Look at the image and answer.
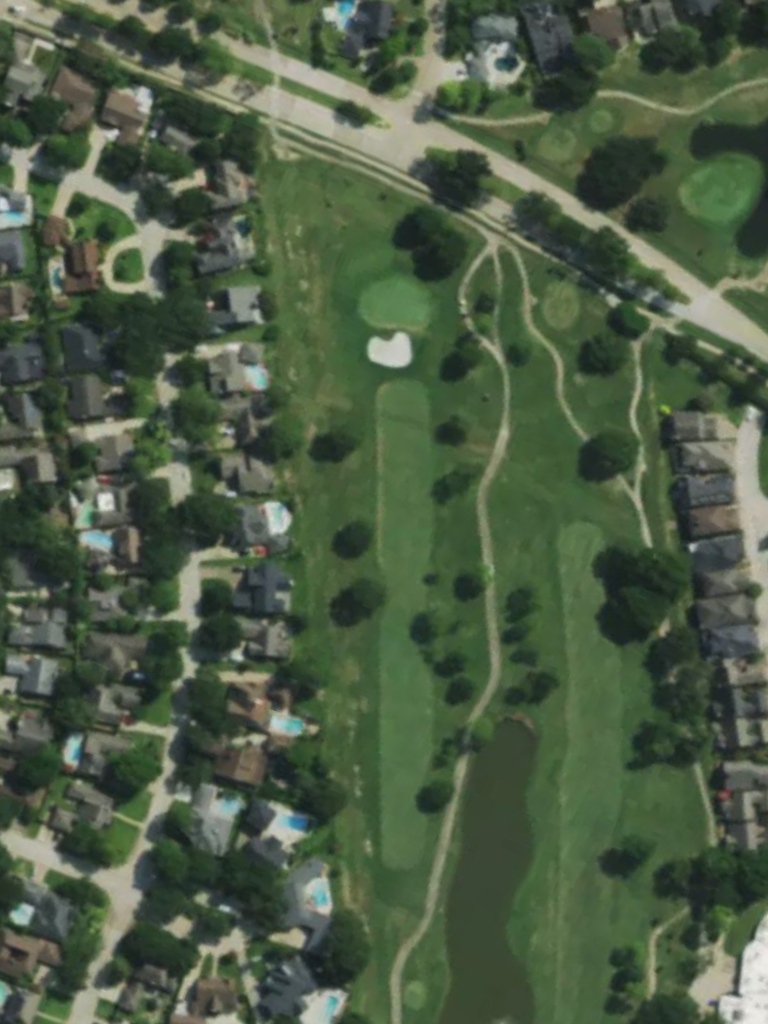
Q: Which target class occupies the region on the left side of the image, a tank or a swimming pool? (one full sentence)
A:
Visible on the left side of the image is a swimming pool.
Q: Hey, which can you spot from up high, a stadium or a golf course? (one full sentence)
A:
Of the two, only a golf course appears.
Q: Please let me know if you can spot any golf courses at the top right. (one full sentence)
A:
Yes, there is a golf course at the top right.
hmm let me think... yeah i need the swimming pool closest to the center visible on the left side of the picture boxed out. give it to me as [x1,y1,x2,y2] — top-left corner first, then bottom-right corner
[267,501,292,531]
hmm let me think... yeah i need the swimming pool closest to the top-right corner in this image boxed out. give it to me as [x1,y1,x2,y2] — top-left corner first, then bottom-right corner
[486,42,522,89]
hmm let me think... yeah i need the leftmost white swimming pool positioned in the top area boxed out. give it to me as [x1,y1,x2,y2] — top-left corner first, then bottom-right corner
[0,193,33,229]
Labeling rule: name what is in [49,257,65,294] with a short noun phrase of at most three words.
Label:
swimming pool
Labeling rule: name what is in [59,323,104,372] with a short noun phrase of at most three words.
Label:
house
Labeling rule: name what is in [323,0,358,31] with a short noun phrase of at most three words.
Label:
swimming pool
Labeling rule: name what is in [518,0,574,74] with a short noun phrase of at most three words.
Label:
house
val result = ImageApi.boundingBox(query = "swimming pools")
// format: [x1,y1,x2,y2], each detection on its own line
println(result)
[11,902,33,926]
[219,794,245,819]
[486,42,522,89]
[79,529,111,551]
[309,877,333,914]
[233,214,255,260]
[69,492,94,529]
[263,802,310,852]
[300,988,348,1024]
[0,193,33,229]
[64,732,84,767]
[242,364,270,391]
[323,0,358,31]
[270,711,315,736]
[267,501,292,531]
[49,257,65,294]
